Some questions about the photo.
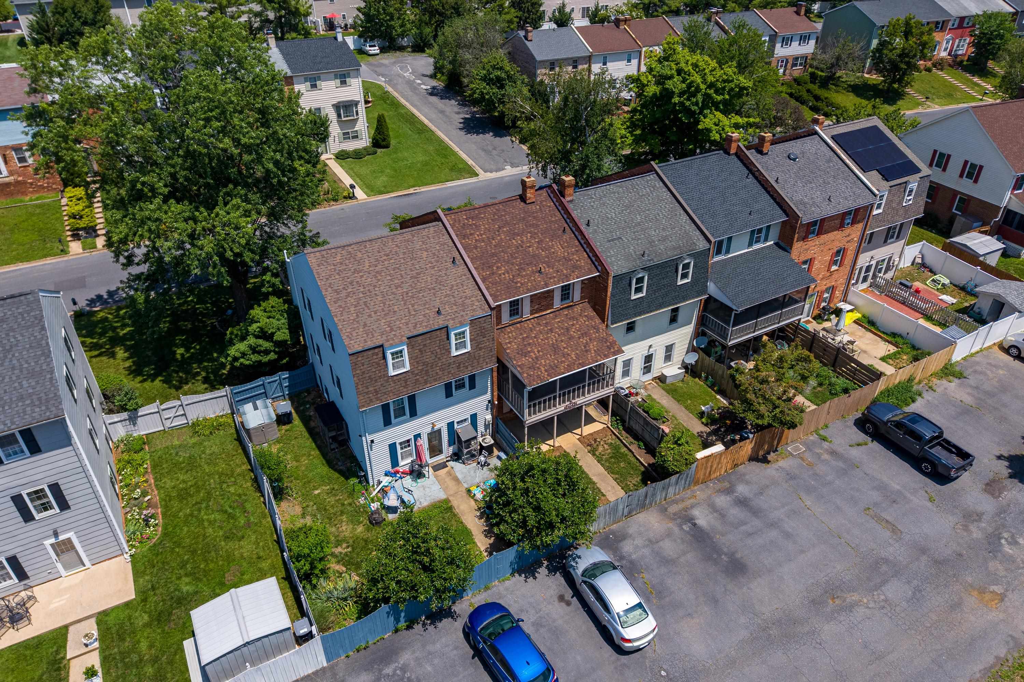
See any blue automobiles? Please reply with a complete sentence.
Yes, the frame does contain a blue automobile.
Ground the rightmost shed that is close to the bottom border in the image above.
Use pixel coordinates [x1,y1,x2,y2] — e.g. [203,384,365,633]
[190,578,297,682]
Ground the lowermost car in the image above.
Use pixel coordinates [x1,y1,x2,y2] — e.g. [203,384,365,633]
[466,600,561,682]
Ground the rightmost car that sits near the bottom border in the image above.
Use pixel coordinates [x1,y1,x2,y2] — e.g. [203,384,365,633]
[565,543,660,652]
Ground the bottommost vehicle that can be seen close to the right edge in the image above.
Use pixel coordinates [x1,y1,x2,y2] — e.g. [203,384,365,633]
[860,402,983,485]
